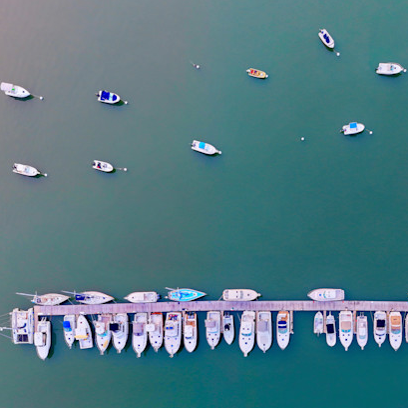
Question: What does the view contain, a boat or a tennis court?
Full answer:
The one in the frame is a boat.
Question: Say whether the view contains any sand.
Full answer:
No, there's no sand in this view.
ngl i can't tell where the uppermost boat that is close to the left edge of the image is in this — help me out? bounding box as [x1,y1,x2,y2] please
[0,81,35,98]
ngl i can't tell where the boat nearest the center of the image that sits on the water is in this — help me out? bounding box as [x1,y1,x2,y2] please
[190,141,218,155]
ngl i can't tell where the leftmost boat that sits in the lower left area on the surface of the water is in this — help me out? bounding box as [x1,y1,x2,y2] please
[0,308,34,344]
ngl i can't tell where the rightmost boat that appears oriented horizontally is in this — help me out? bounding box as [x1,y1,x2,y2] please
[377,63,404,76]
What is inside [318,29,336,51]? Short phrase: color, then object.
white boat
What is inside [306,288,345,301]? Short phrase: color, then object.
white boat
